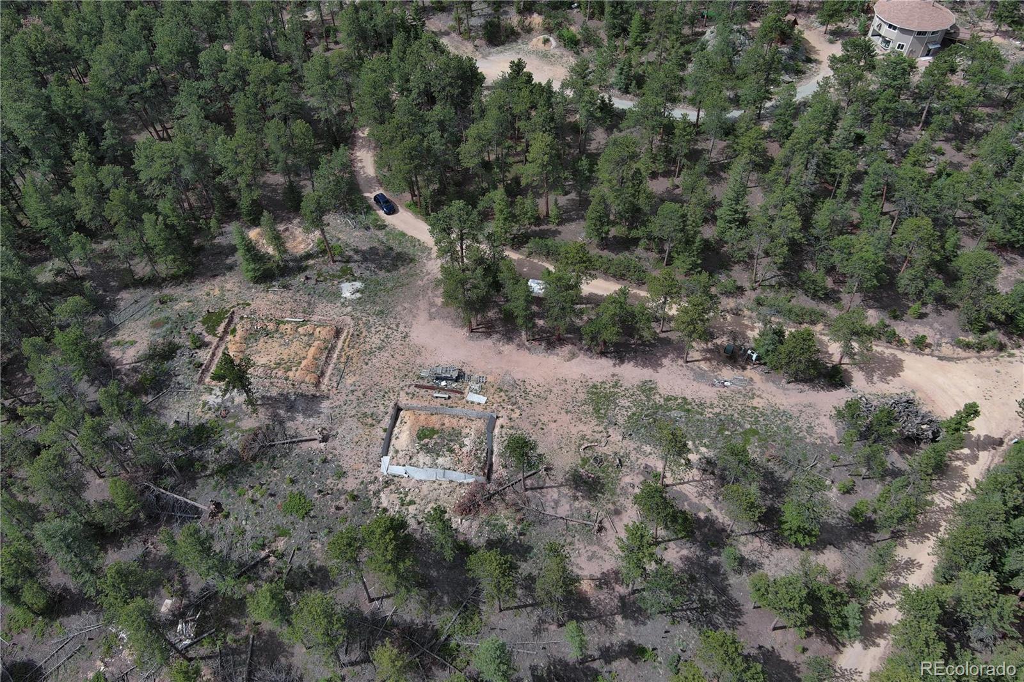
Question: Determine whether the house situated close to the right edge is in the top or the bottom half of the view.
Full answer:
It is in the top half that the house situated close to the right edge appears.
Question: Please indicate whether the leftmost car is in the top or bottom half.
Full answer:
The top half of the photo is where the leftmost car is.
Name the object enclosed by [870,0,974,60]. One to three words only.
house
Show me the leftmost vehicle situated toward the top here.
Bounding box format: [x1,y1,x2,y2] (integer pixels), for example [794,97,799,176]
[372,189,395,213]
